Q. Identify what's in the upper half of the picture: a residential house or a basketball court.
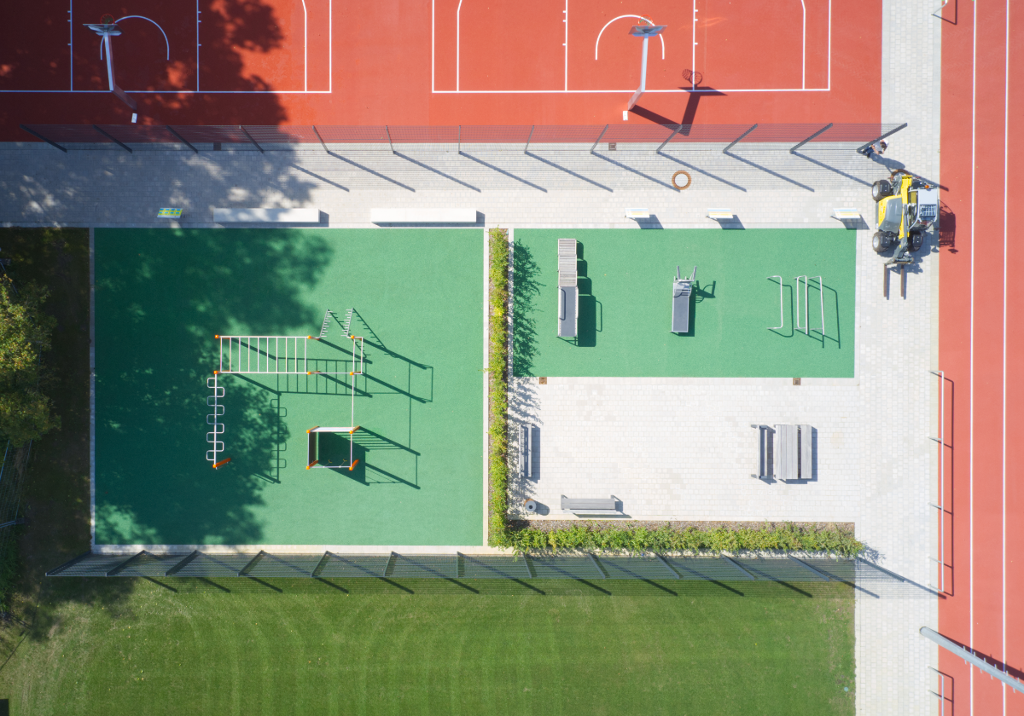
basketball court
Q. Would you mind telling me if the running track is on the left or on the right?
right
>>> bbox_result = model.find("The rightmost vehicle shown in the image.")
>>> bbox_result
[870,168,939,296]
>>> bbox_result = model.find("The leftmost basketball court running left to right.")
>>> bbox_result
[0,0,381,142]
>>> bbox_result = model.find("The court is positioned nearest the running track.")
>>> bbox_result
[381,0,882,142]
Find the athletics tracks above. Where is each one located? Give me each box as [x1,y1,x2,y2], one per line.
[938,0,1024,716]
